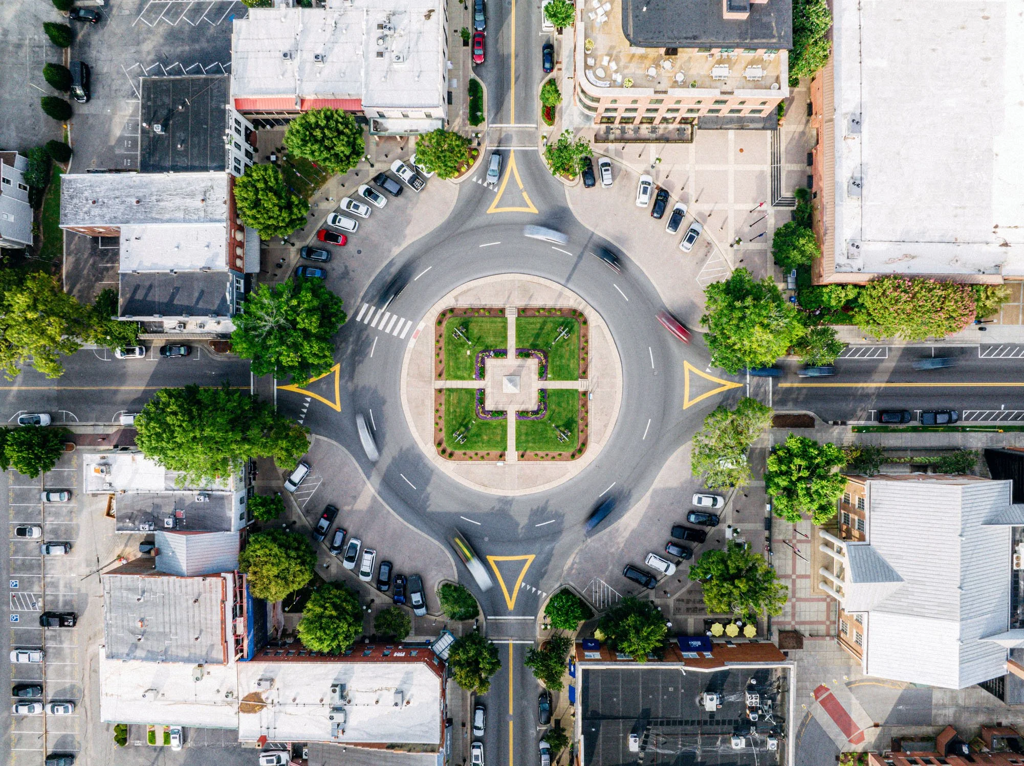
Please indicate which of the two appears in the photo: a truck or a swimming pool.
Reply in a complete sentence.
It is a truck that can be seen here.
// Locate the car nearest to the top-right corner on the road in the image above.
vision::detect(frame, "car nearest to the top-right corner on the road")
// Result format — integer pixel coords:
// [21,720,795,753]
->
[917,356,952,372]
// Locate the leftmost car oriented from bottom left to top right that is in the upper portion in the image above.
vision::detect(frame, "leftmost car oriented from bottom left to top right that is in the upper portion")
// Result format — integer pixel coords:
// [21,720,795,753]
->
[380,272,411,307]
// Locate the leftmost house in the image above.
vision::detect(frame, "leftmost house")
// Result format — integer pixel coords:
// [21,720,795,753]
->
[0,151,42,249]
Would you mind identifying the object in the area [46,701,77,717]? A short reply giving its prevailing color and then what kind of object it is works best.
white car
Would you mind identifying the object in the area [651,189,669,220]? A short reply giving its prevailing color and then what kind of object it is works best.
black car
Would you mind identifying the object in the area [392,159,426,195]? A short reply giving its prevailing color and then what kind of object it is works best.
white truck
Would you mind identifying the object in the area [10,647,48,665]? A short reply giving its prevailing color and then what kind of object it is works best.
white vehicle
